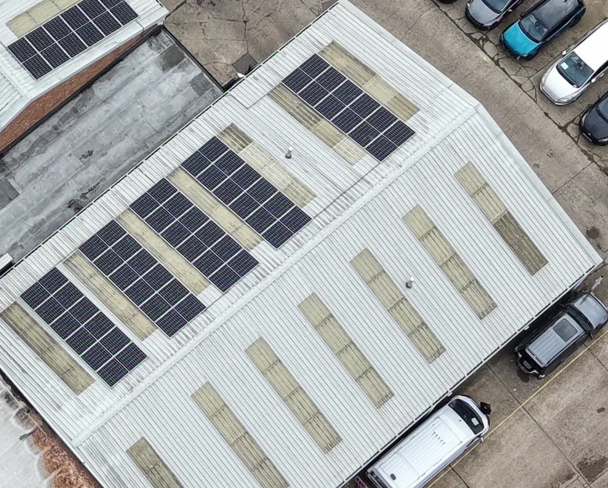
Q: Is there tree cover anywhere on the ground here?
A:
No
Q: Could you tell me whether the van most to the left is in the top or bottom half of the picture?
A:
bottom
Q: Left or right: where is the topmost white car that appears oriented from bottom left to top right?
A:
right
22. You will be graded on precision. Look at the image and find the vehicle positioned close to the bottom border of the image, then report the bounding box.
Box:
[373,396,494,488]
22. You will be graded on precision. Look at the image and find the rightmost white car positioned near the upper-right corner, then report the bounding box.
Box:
[542,29,608,104]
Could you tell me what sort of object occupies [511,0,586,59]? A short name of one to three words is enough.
car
